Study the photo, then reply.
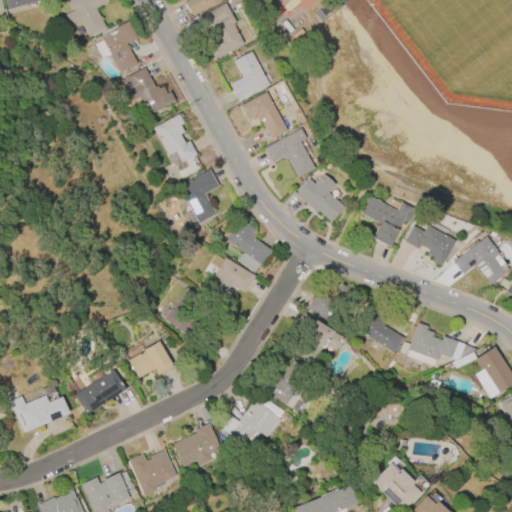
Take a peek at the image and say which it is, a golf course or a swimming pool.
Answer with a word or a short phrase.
swimming pool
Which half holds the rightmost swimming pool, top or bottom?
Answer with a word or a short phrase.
bottom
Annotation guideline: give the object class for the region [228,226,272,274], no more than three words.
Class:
house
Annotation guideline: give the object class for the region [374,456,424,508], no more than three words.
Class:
house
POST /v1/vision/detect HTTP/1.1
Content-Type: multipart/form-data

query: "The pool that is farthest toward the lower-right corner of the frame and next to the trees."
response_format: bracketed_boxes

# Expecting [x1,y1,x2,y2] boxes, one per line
[412,442,441,456]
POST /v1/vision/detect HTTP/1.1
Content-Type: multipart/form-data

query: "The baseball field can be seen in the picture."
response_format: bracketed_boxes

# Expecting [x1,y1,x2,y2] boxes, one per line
[367,0,512,110]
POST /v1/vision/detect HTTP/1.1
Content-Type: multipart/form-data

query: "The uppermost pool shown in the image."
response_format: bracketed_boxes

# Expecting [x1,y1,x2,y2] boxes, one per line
[101,58,118,78]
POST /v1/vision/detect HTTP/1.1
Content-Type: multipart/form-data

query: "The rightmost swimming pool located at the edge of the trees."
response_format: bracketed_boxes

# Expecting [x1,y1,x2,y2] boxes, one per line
[448,374,474,394]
